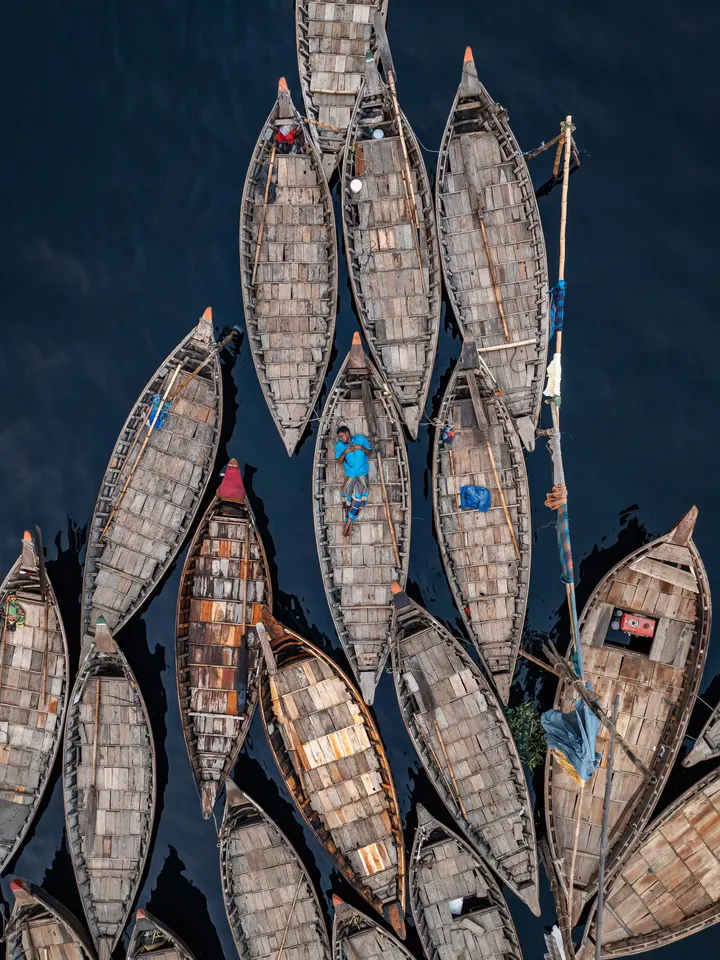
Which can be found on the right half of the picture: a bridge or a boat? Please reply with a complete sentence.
What appears on the right half of the picture is a boat.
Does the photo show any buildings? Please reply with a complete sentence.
No, no building is visible in the scene.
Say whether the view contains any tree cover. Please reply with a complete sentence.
No, there's no tree cover in this view.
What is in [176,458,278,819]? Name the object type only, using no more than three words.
boat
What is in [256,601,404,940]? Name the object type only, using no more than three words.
boat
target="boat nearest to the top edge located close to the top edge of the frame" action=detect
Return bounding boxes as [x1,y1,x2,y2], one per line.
[289,0,390,189]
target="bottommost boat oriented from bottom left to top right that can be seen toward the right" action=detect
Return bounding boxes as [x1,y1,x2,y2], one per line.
[575,763,720,960]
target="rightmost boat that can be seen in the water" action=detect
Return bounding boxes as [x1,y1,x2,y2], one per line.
[678,664,720,768]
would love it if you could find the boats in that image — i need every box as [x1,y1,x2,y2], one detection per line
[256,601,404,940]
[0,531,75,874]
[432,47,548,453]
[575,763,720,960]
[546,505,715,931]
[325,889,417,960]
[214,773,338,960]
[82,307,228,669]
[0,877,101,960]
[401,799,523,960]
[427,334,532,707]
[335,52,442,441]
[678,664,720,768]
[311,331,413,706]
[387,578,541,919]
[176,458,278,819]
[289,0,390,189]
[238,79,340,457]
[63,615,162,959]
[125,903,195,960]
